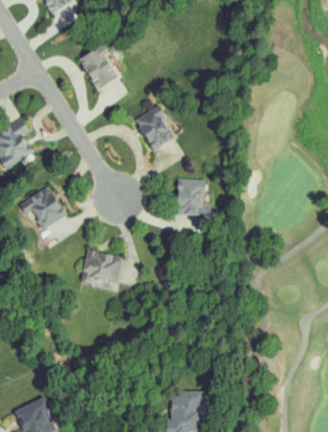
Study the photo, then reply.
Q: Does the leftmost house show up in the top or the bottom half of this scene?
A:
top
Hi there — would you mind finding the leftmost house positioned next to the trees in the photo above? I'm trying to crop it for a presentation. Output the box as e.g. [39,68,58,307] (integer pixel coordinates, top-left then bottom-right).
[0,118,29,170]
